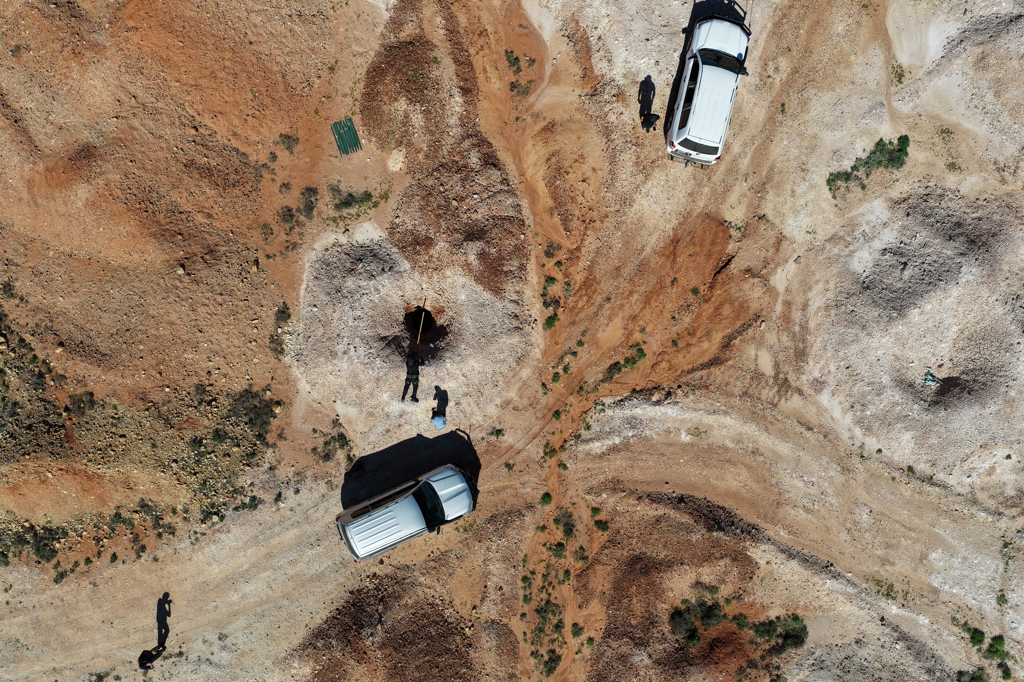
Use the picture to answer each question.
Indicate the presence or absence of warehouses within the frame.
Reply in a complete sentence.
No, the photo shows no warehouse.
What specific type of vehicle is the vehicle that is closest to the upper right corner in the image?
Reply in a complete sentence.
The vehicle that is closest to the upper right corner in the image is a car.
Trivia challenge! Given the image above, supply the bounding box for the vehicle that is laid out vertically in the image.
[667,8,766,174]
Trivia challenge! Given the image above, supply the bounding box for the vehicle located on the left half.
[332,459,480,563]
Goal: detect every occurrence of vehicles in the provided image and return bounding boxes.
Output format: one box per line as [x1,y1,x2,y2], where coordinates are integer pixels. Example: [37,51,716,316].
[667,8,766,174]
[332,459,480,563]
